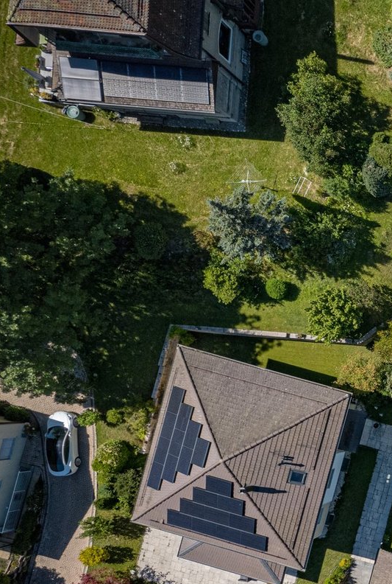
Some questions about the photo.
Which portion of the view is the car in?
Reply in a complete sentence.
You can find the car in the bottom left area of the picture.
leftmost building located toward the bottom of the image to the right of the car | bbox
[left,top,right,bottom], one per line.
[130,344,371,584]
